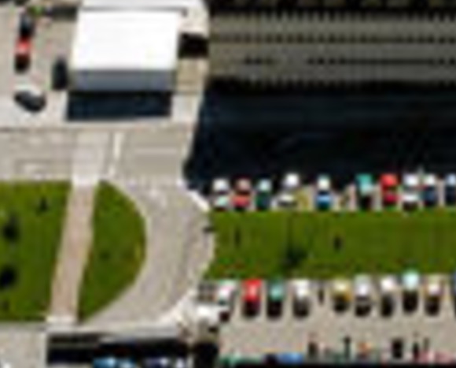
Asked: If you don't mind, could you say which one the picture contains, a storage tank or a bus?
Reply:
bus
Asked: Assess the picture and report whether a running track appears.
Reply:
No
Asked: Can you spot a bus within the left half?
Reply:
Yes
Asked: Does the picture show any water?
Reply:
No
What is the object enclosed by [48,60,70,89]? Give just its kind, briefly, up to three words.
car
